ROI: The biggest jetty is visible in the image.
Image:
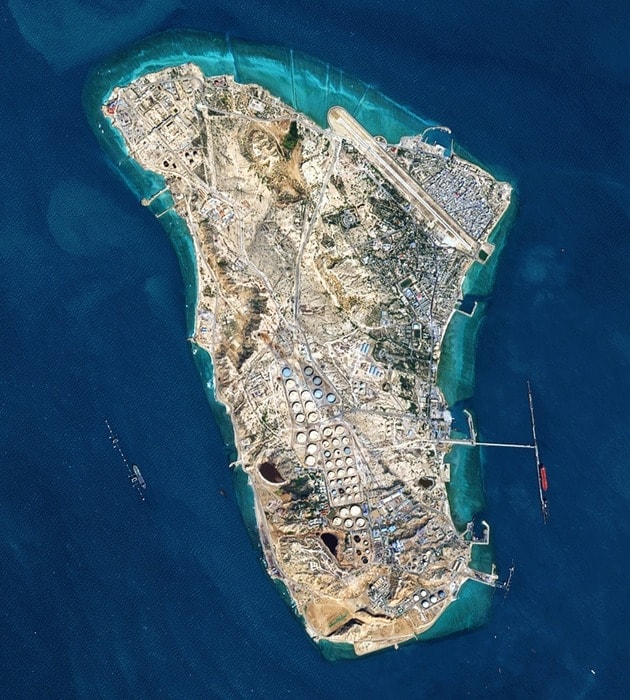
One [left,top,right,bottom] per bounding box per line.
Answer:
[449,381,547,522]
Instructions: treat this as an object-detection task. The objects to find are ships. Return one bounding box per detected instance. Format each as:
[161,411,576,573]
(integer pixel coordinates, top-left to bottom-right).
[133,465,146,489]
[541,466,547,491]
